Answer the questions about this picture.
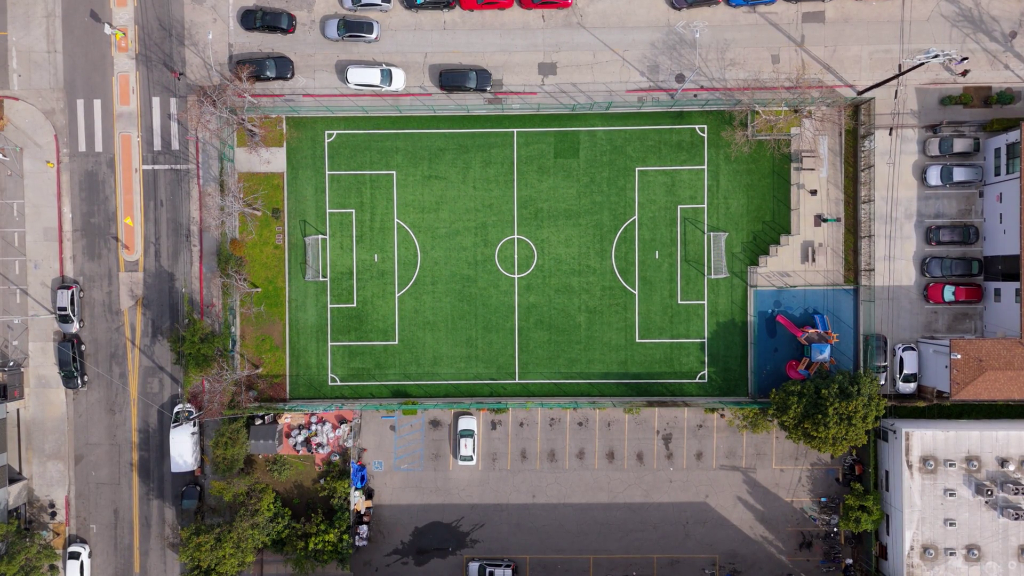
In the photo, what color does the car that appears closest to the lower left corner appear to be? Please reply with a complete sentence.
The car that appears closest to the lower left corner looks white in the image.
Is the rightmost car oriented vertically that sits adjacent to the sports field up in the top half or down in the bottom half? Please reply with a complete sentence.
The rightmost car oriented vertically that sits adjacent to the sports field is in the bottom half of the image.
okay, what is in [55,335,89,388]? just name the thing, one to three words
car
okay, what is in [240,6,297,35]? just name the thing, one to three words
car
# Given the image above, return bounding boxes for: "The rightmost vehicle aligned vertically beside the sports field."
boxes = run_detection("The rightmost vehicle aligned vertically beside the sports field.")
[455,416,478,465]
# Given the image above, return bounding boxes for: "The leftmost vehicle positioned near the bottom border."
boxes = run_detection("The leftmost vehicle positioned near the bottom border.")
[66,541,94,576]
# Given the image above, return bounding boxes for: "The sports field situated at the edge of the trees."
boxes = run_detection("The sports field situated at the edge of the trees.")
[242,107,791,399]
